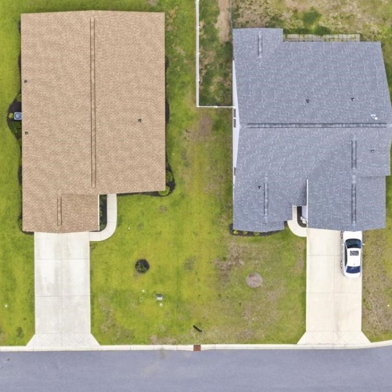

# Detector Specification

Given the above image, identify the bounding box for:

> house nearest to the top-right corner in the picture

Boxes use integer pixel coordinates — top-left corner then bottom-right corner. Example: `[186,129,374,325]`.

[230,28,392,233]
